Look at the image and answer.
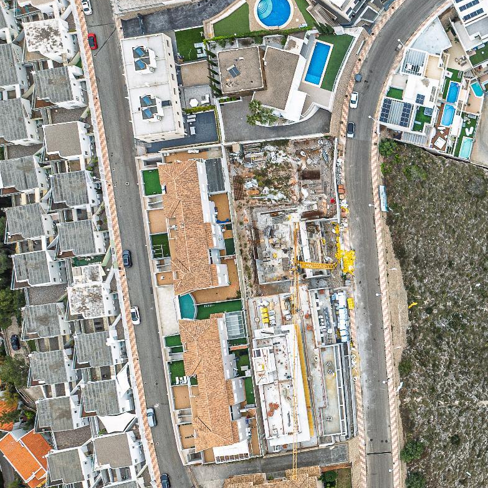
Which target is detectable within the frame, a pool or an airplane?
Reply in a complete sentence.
It is a pool that can be seen here.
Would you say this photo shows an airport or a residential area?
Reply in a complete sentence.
The picture captures a residential area.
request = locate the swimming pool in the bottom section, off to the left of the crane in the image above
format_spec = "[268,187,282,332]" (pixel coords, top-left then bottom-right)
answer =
[179,293,196,321]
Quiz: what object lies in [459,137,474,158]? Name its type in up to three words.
swimming pool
